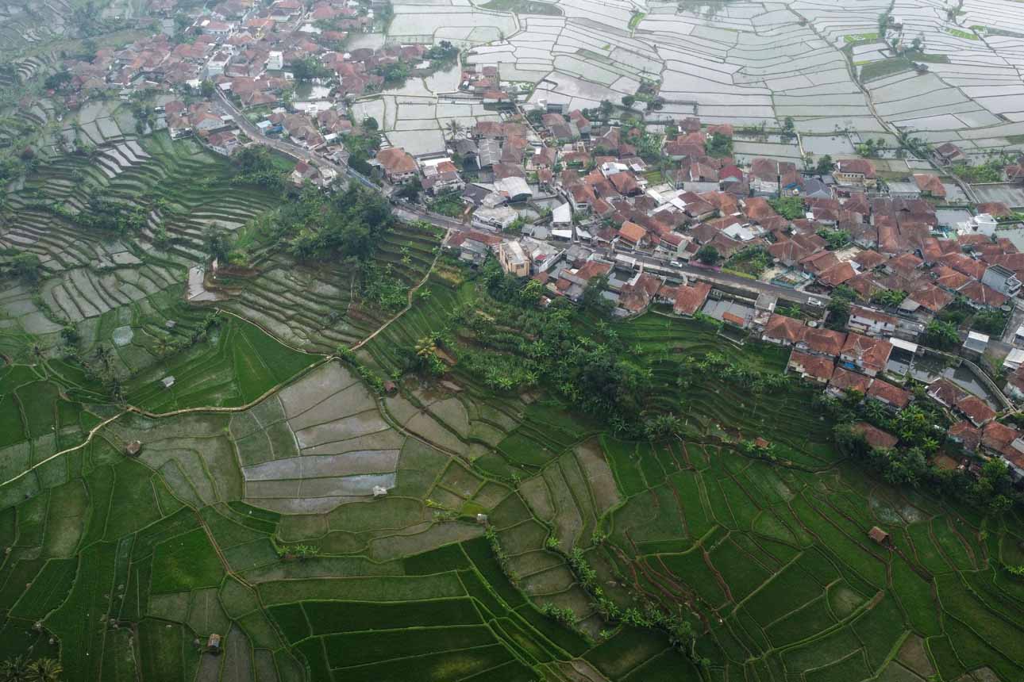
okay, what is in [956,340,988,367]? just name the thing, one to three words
shed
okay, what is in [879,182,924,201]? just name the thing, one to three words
house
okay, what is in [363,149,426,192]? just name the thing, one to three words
house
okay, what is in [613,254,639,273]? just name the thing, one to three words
shed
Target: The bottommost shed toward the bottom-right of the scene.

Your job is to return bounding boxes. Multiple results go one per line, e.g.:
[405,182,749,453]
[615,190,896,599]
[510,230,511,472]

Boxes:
[869,521,894,545]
